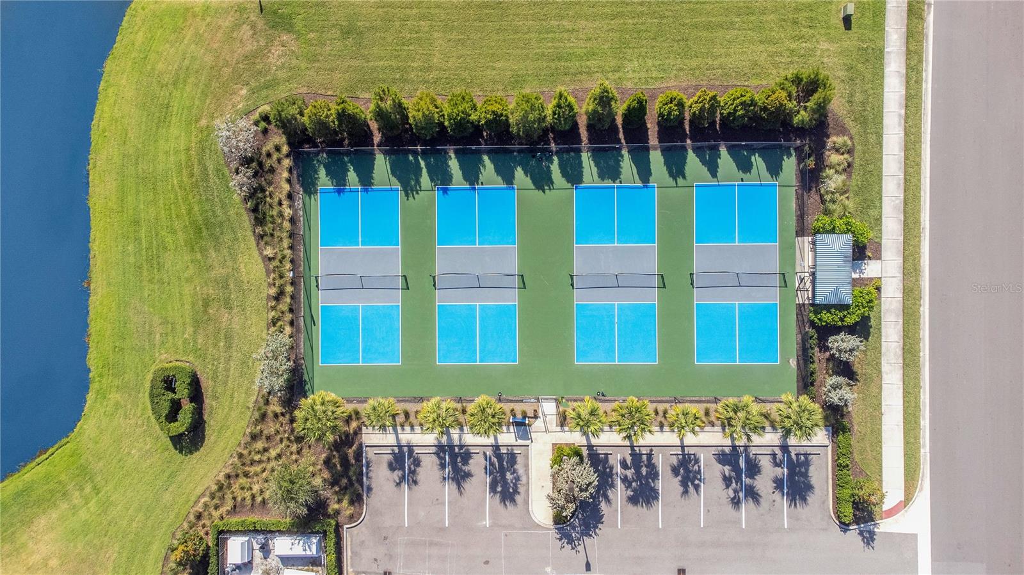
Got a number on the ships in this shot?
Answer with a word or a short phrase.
0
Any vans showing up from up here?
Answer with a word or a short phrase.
No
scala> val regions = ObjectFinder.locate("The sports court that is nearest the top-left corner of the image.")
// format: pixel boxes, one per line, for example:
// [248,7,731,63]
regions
[318,186,402,366]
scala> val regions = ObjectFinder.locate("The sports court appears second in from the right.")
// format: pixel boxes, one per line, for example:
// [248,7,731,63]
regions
[574,184,658,365]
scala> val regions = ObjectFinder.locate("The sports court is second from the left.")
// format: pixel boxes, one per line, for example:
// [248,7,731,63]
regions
[436,186,518,365]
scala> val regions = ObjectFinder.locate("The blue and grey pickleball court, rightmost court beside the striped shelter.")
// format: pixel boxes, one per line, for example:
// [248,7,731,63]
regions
[694,182,780,365]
